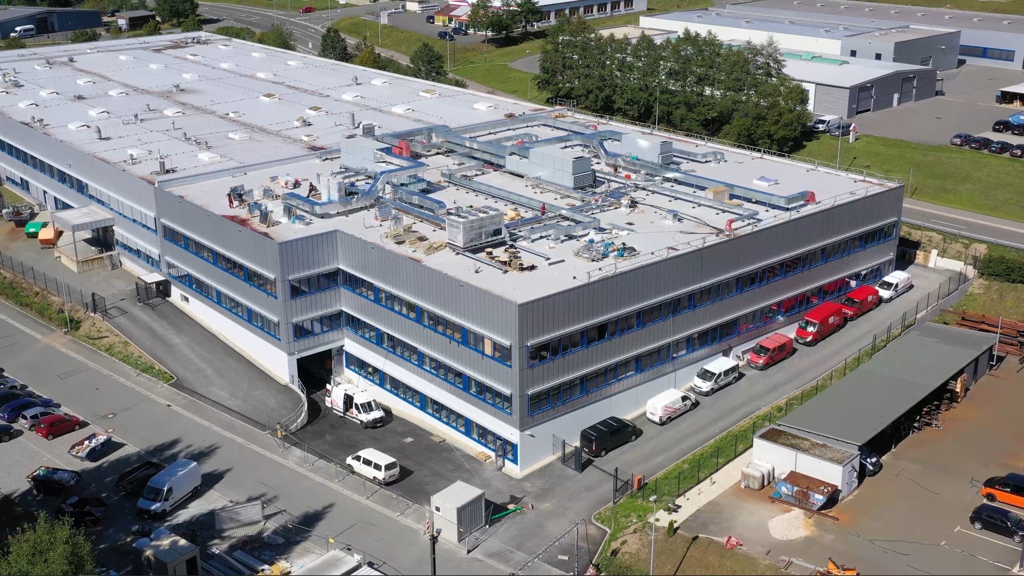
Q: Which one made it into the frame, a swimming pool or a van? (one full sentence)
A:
I can see a van in this picture.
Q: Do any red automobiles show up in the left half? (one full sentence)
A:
Yes, the scene does show a red automobile in the left half.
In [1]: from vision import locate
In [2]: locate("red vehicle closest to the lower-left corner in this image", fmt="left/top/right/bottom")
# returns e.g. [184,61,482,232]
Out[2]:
[30,413,85,441]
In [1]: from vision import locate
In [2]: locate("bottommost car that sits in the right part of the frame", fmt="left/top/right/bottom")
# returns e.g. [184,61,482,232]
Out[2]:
[959,511,1024,555]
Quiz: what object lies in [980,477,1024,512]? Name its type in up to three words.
van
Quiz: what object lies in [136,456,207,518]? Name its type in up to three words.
van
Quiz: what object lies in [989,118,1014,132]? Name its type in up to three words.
car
